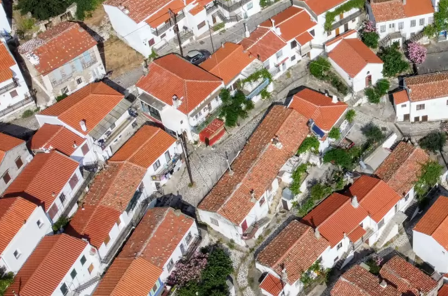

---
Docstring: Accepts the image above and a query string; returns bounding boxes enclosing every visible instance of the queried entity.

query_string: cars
[183,47,211,64]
